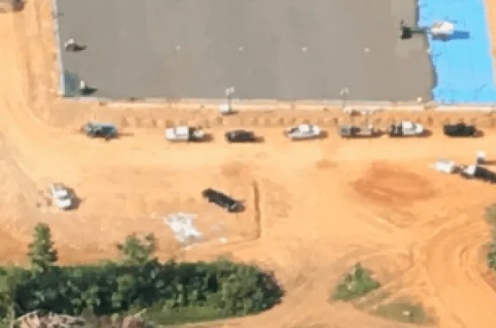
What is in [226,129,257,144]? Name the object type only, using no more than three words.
car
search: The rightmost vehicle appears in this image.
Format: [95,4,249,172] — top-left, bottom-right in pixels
[463,163,496,183]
